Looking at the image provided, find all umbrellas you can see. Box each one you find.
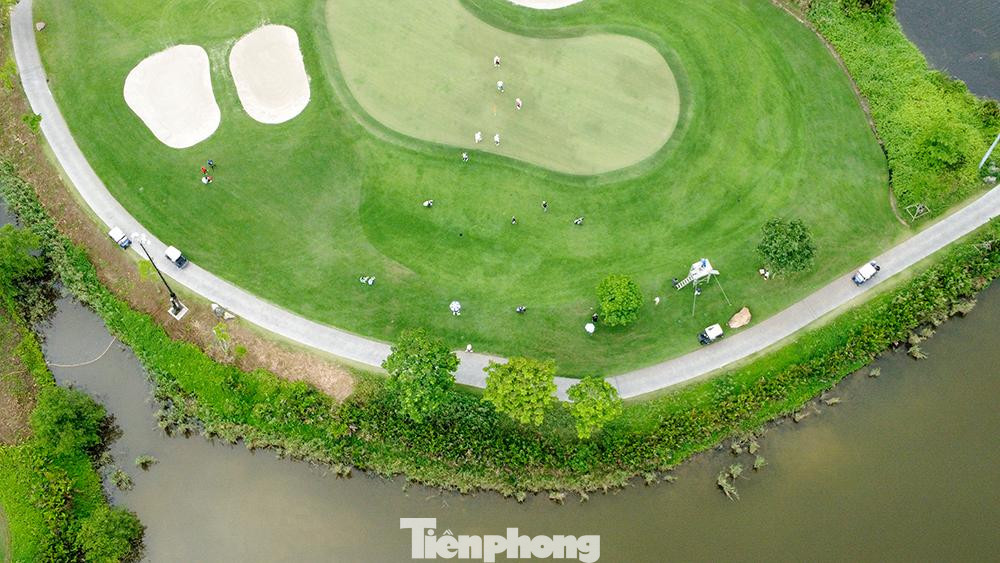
[447,302,459,312]
[583,322,596,333]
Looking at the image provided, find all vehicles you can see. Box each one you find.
[852,261,881,288]
[108,228,135,257]
[694,322,724,350]
[166,247,192,276]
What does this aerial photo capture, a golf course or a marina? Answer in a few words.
golf course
